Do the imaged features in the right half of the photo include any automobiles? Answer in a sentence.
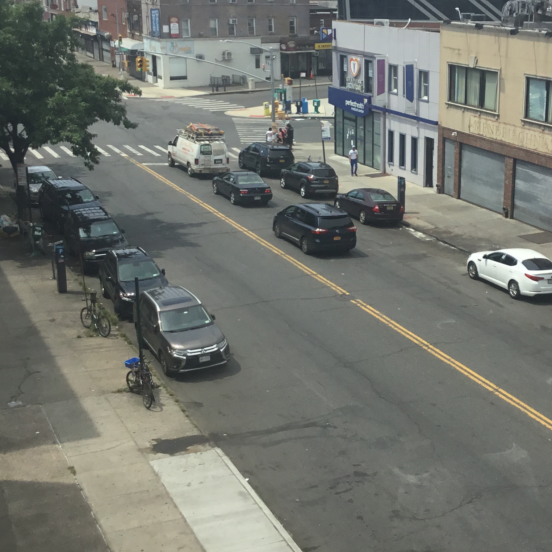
Yes, an automobile appears in the right half of the photo.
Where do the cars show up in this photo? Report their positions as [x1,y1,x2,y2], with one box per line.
[330,185,405,224]
[278,159,340,197]
[60,204,129,269]
[460,245,552,300]
[135,286,233,378]
[20,167,62,204]
[210,170,271,206]
[234,137,293,174]
[270,201,355,254]
[92,243,171,314]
